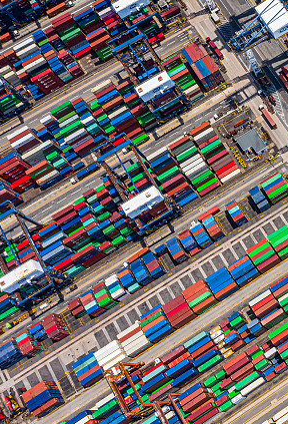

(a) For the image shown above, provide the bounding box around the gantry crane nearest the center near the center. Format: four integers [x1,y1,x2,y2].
[90,129,192,245]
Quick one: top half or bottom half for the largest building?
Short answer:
top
